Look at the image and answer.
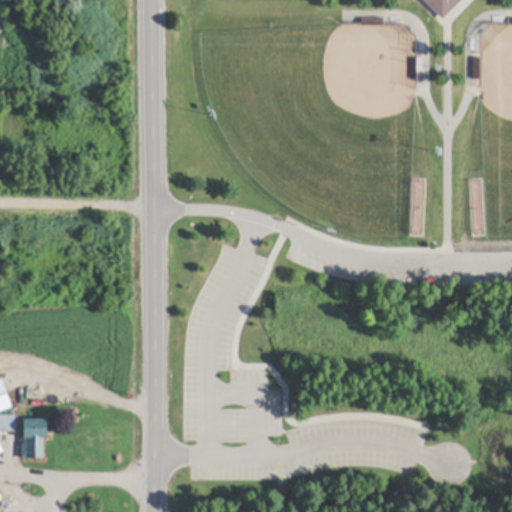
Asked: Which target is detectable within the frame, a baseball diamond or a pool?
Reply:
baseball diamond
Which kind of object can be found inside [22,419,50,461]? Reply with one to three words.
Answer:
house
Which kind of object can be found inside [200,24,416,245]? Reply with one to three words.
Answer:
baseball field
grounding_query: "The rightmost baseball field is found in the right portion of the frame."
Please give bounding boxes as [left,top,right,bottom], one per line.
[482,24,512,240]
